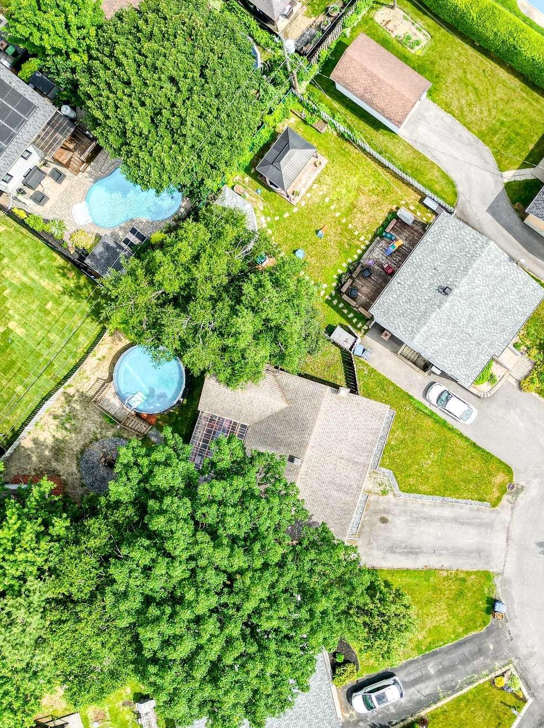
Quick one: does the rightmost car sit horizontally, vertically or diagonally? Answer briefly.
diagonally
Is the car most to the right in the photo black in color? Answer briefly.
No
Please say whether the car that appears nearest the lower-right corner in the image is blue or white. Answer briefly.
white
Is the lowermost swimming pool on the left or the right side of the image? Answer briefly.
left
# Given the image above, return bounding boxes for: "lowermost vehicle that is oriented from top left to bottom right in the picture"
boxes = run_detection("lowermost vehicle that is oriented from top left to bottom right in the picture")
[423,379,480,426]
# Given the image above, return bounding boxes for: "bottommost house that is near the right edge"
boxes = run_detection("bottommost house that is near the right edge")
[368,210,544,389]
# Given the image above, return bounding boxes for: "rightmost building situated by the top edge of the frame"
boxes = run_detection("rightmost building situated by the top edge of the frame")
[329,33,432,137]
